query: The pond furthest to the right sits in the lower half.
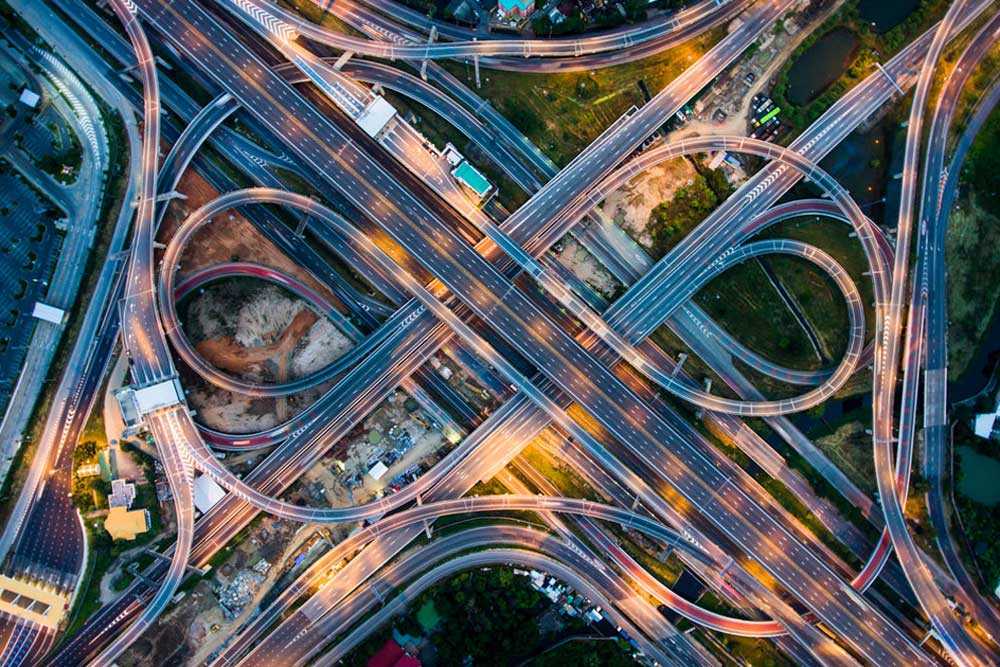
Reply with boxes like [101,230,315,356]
[958,446,1000,502]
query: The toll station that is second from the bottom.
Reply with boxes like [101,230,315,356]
[132,350,181,426]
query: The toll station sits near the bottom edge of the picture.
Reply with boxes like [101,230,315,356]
[0,571,73,652]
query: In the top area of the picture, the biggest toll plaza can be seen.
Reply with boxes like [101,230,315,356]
[332,79,420,148]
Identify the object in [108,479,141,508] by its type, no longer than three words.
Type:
house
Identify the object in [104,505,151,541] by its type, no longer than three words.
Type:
house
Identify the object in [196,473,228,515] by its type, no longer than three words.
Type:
building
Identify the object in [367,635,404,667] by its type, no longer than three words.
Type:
building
